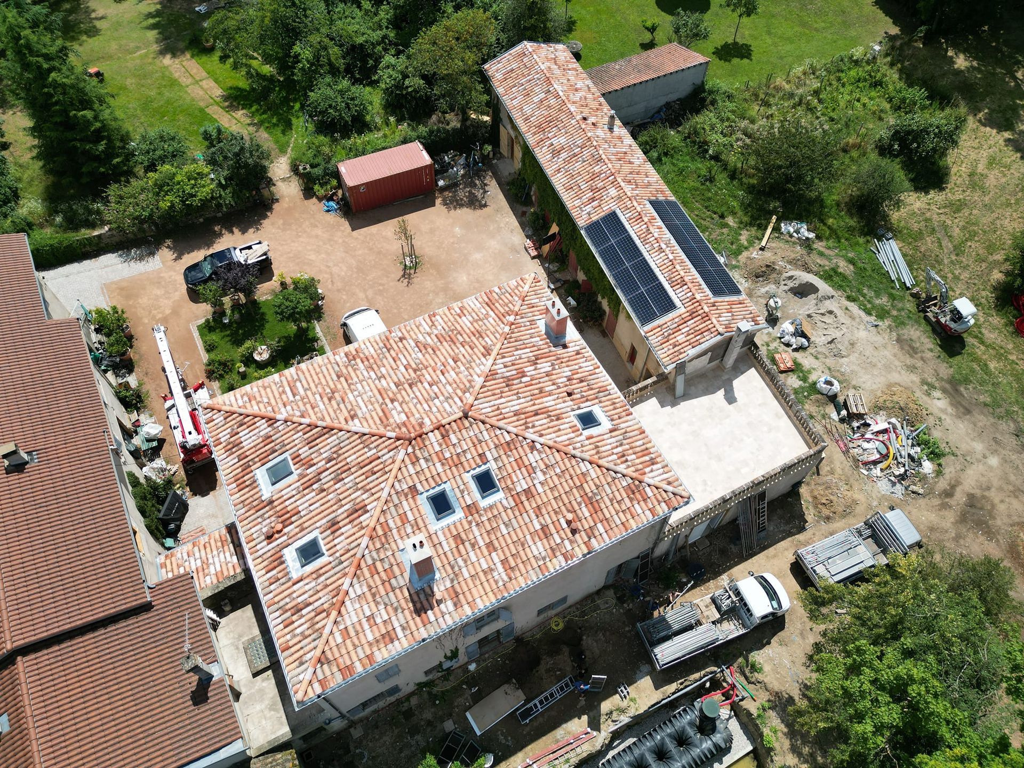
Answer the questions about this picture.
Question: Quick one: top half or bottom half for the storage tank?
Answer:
bottom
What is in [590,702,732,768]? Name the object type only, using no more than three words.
storage tank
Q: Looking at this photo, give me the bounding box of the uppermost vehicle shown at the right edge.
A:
[917,266,977,339]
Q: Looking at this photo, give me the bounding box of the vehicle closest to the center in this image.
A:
[343,307,385,340]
